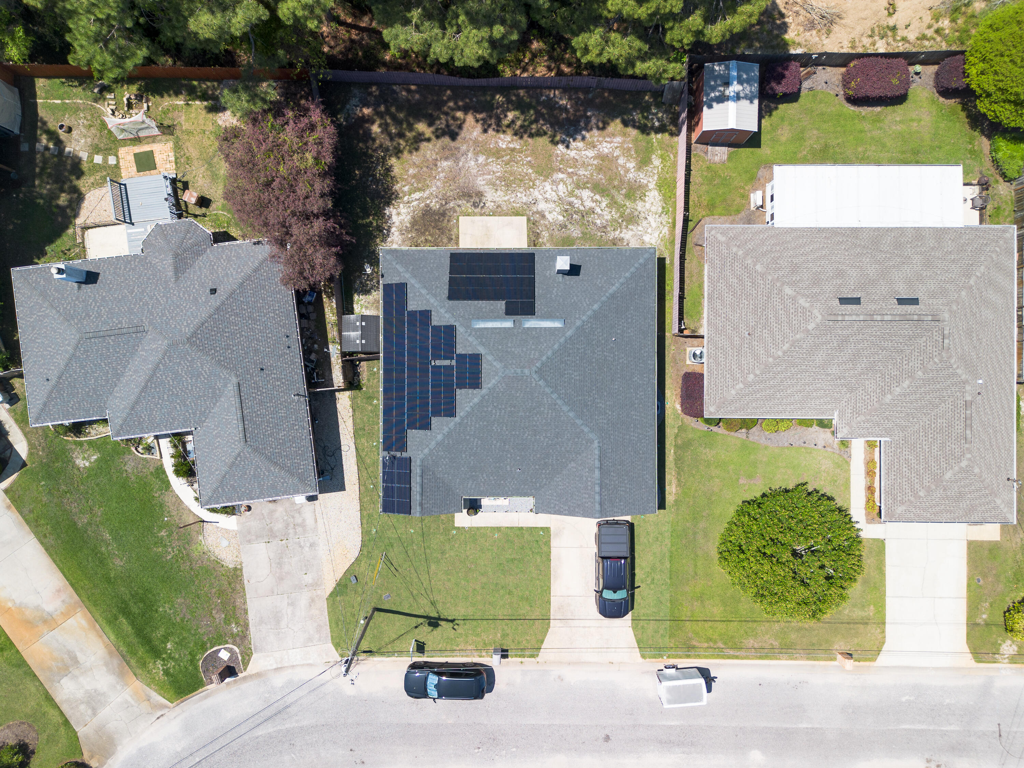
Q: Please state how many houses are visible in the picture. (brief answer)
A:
3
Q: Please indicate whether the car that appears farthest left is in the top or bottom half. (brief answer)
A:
bottom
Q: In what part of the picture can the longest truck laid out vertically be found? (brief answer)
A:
bottom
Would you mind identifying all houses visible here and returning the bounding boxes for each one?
[379,246,659,519]
[8,216,322,511]
[701,163,1019,525]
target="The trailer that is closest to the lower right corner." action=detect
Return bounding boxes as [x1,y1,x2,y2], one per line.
[656,664,717,708]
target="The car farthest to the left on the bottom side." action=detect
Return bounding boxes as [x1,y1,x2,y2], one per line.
[405,660,486,704]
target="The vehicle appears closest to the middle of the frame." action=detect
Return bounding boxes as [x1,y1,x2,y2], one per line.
[592,518,635,617]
